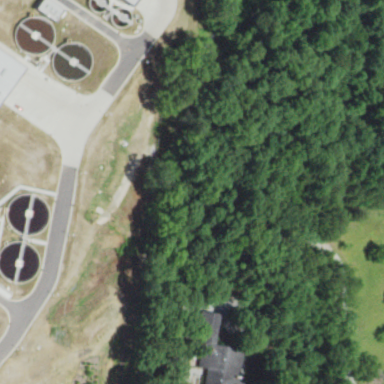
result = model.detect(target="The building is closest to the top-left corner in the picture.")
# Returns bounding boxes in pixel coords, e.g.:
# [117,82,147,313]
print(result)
[38,0,64,21]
